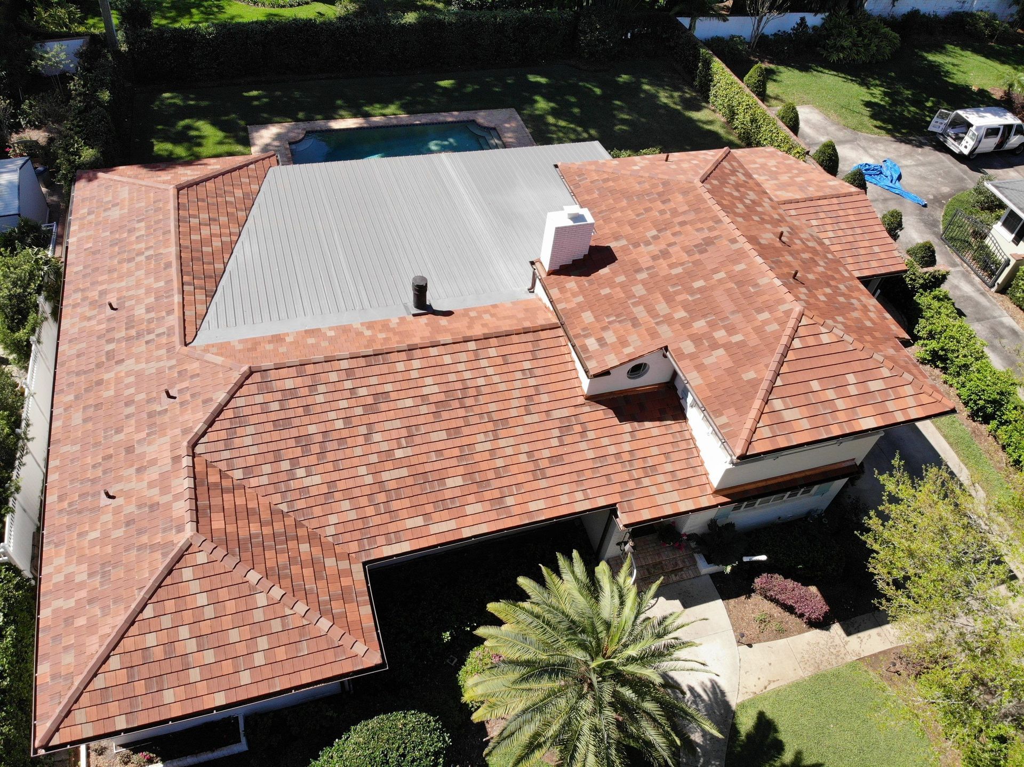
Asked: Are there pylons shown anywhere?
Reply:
No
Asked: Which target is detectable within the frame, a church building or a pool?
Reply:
pool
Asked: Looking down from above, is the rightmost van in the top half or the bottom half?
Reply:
top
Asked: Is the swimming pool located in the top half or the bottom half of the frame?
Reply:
top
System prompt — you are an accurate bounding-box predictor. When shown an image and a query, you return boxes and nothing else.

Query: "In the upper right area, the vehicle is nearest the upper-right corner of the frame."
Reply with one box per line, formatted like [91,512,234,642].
[924,108,1024,160]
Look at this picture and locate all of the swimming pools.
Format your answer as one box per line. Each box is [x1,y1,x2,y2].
[289,117,505,165]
